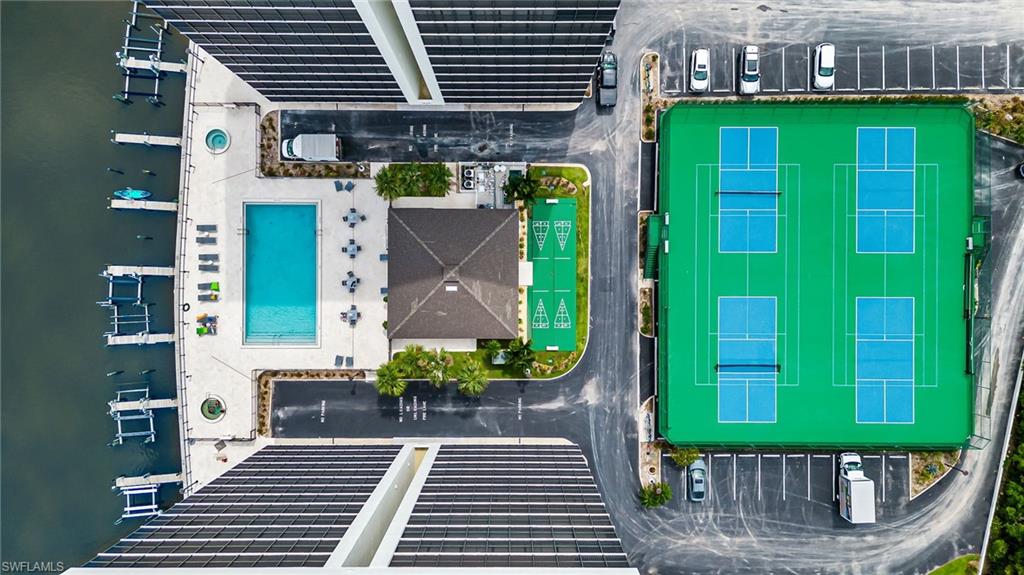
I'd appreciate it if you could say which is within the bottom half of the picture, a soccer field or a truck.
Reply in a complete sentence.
There is a truck within the bottom half of the picture.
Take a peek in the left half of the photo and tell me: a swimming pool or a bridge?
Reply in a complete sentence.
It is a swimming pool that can be seen in the left half of the photo.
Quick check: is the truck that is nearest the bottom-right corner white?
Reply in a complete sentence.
Yes, white is the color of the truck that is nearest the bottom-right corner.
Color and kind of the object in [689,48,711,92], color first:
white car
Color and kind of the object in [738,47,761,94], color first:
white car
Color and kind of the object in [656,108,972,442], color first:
green sports court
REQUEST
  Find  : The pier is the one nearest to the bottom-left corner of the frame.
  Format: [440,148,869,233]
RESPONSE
[116,470,183,490]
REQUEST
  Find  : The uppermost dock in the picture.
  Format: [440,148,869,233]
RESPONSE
[126,58,188,76]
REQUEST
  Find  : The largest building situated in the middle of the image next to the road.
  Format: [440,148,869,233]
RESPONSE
[387,207,532,339]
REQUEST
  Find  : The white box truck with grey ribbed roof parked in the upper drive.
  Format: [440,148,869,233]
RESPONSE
[282,134,345,162]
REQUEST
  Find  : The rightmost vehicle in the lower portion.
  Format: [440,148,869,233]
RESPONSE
[839,451,875,524]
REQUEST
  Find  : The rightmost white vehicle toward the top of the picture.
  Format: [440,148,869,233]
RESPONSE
[812,45,836,91]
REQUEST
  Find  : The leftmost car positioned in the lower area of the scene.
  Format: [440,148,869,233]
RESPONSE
[687,457,709,502]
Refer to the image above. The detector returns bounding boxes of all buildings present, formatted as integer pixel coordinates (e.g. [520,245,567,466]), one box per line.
[64,444,641,575]
[387,207,532,339]
[142,0,621,105]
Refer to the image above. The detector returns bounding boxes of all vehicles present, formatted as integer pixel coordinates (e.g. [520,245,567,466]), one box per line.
[738,47,761,94]
[603,23,613,47]
[812,45,836,91]
[687,457,709,502]
[597,52,619,107]
[282,134,345,162]
[689,48,711,92]
[839,451,875,524]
